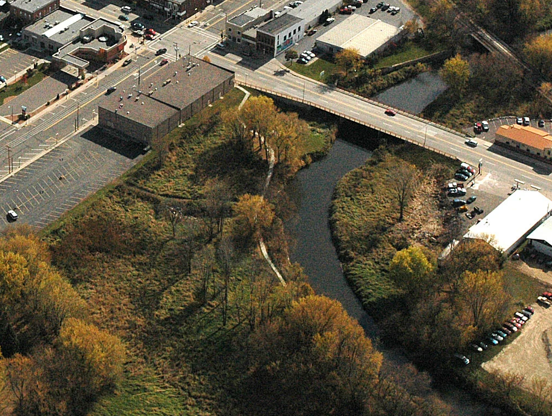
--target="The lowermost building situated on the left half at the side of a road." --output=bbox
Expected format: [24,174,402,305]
[98,54,234,148]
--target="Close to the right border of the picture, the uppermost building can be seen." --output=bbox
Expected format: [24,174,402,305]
[497,122,552,165]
